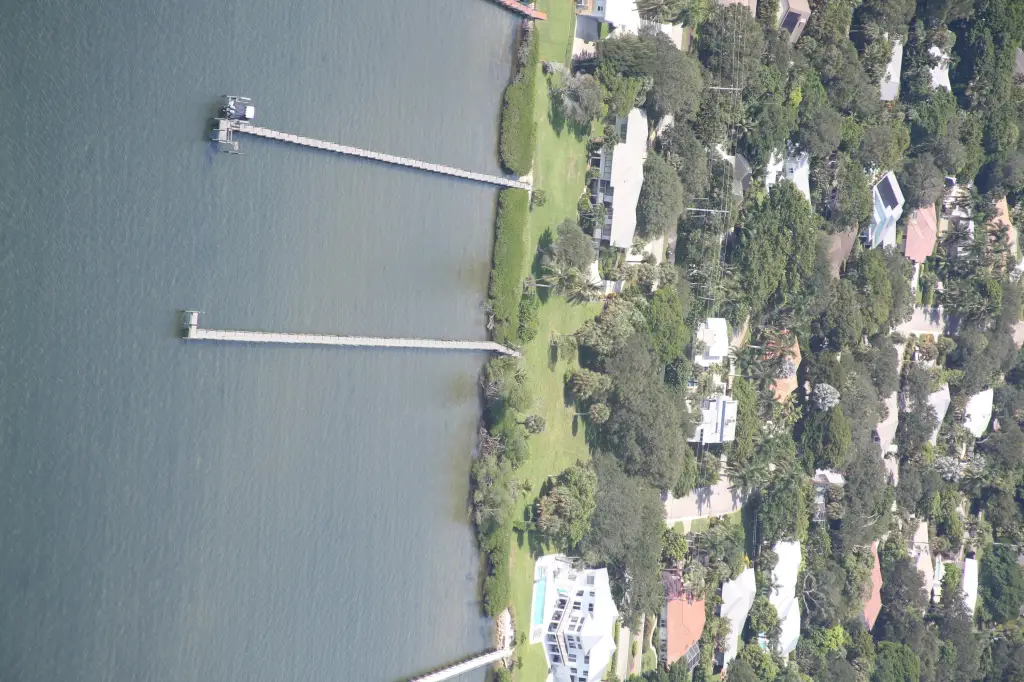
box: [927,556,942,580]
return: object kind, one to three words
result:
building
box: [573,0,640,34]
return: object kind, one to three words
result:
house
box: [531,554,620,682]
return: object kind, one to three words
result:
house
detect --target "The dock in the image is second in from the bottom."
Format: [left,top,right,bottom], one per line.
[180,311,521,359]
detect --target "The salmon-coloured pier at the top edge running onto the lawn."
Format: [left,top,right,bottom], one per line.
[485,0,547,20]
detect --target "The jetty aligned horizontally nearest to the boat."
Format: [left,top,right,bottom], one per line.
[210,118,533,191]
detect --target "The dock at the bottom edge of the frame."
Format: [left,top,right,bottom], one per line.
[388,645,512,682]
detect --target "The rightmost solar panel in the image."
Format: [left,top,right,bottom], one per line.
[877,178,900,208]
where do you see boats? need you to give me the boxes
[221,101,255,118]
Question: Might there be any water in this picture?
Yes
